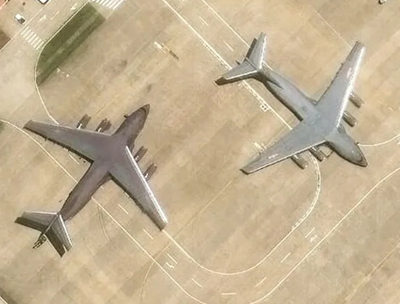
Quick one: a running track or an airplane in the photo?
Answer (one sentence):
I can see an airplane in this picture.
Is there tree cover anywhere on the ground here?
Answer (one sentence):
No, the picture contains no tree cover.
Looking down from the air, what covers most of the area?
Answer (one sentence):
The scene is dominated by paved ground.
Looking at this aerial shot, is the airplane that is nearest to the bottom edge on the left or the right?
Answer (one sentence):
The airplane that is nearest to the bottom edge sits on the left side.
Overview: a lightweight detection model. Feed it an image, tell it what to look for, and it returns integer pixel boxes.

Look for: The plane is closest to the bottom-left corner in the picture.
[24,105,168,255]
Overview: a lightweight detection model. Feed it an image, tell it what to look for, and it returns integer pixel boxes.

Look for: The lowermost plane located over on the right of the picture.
[223,31,367,173]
